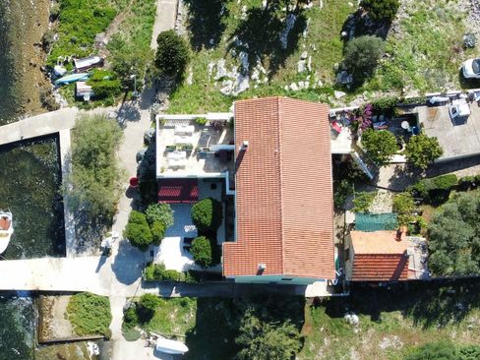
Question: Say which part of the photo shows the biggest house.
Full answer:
Look in the center portion of the view to spot the biggest house.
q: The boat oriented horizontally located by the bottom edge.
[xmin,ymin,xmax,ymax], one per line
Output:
[155,336,189,353]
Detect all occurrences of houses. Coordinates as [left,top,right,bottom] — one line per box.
[218,92,335,280]
[338,230,412,281]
